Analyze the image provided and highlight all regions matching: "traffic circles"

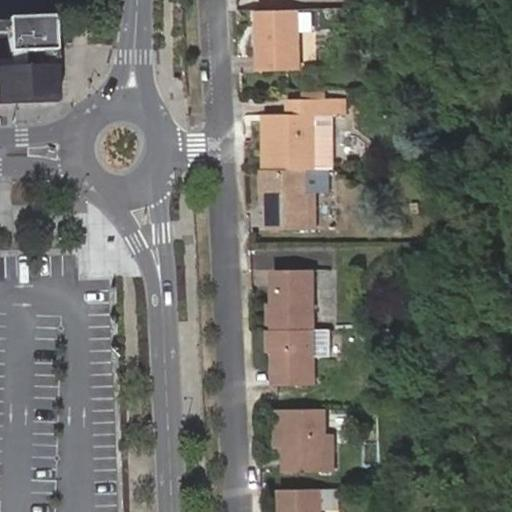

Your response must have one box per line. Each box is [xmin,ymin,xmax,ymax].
[69,98,171,199]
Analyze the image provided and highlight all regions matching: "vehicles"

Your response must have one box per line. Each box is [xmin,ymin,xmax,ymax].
[199,60,210,81]
[94,483,115,494]
[34,410,55,420]
[18,256,29,284]
[248,468,259,489]
[33,469,54,480]
[163,282,174,304]
[252,372,268,384]
[29,503,50,512]
[85,292,104,302]
[35,350,56,360]
[102,77,118,99]
[40,257,50,276]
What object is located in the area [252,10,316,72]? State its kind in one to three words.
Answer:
house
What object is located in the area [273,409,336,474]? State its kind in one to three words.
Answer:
house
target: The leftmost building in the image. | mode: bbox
[0,0,63,103]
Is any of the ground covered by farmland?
No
